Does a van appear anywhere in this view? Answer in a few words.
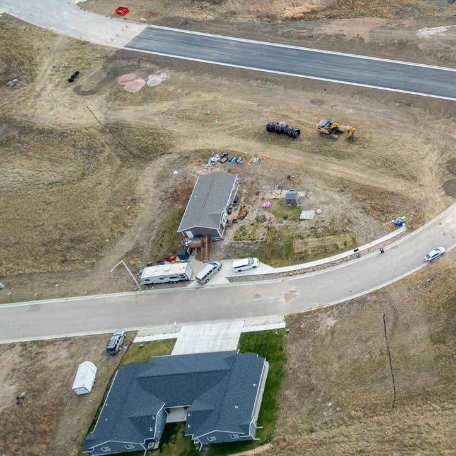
Yes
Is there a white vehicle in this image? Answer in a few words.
Yes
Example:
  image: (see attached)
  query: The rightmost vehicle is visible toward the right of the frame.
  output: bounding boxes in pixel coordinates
[419,243,448,263]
